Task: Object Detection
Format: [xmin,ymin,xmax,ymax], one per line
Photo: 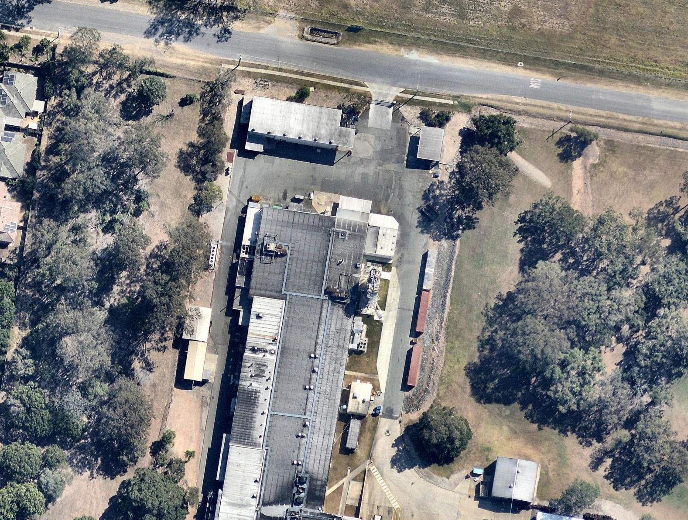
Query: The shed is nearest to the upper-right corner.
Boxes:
[418,126,444,163]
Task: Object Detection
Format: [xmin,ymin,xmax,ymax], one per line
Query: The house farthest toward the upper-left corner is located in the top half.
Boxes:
[0,70,45,127]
